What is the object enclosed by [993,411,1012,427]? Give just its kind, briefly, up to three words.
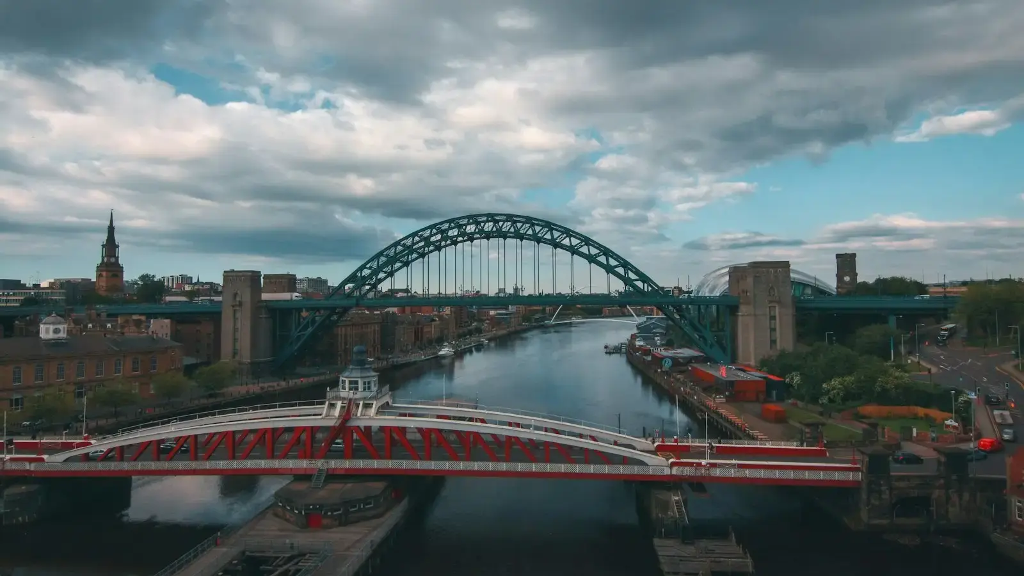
vehicle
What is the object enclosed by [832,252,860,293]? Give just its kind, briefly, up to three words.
building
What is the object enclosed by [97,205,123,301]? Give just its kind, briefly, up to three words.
building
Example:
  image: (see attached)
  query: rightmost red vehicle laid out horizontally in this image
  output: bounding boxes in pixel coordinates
[971,438,1010,454]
